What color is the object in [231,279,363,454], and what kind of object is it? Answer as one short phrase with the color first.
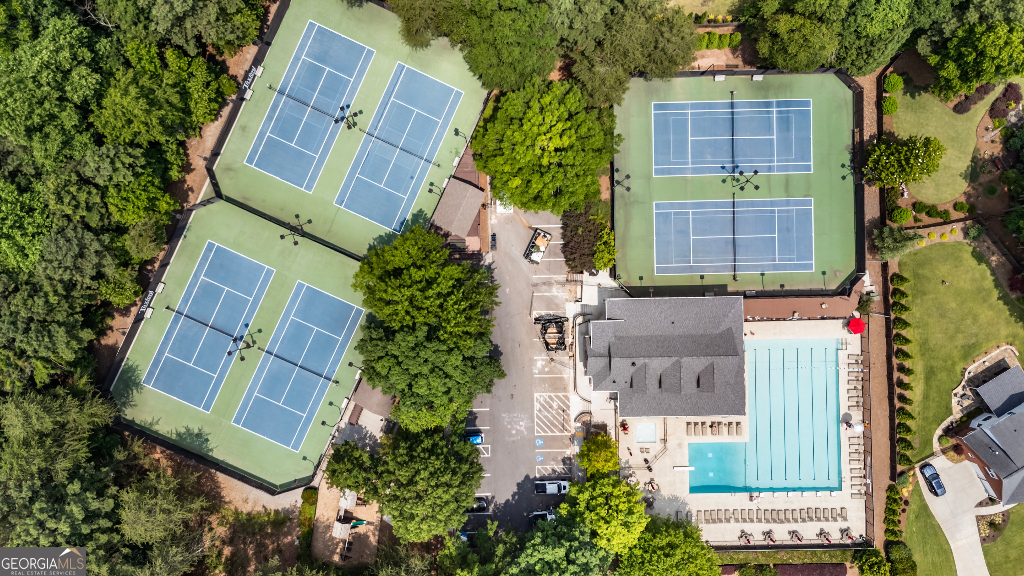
blue tennis court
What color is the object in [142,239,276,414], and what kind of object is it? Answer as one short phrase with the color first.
blue tennis court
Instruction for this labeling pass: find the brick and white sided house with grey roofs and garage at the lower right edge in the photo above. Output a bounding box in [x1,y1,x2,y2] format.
[950,364,1024,514]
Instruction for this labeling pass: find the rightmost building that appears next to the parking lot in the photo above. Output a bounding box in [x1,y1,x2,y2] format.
[584,296,747,418]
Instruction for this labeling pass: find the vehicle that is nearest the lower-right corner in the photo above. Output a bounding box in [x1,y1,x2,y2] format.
[922,464,949,499]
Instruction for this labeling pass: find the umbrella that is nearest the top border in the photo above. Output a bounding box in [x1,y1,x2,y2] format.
[847,317,864,334]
